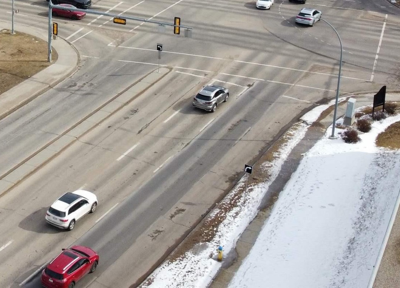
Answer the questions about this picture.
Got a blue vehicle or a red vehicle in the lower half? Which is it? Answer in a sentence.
The feature located in the lower half is a red vehicle.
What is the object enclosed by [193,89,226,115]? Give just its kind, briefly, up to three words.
car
